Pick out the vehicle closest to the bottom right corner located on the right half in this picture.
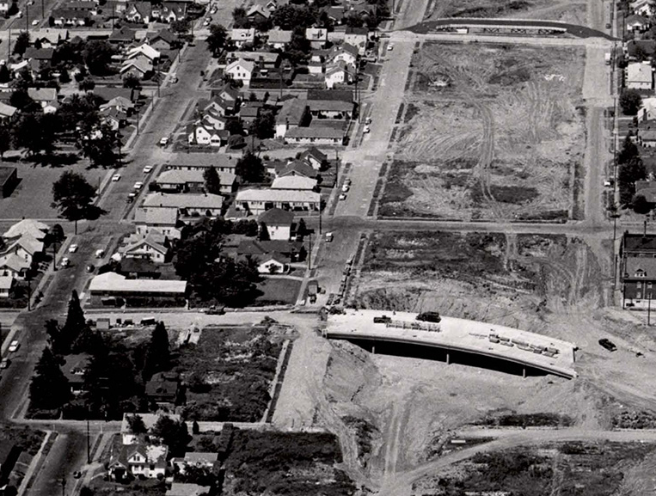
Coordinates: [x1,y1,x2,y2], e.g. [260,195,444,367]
[595,339,621,353]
